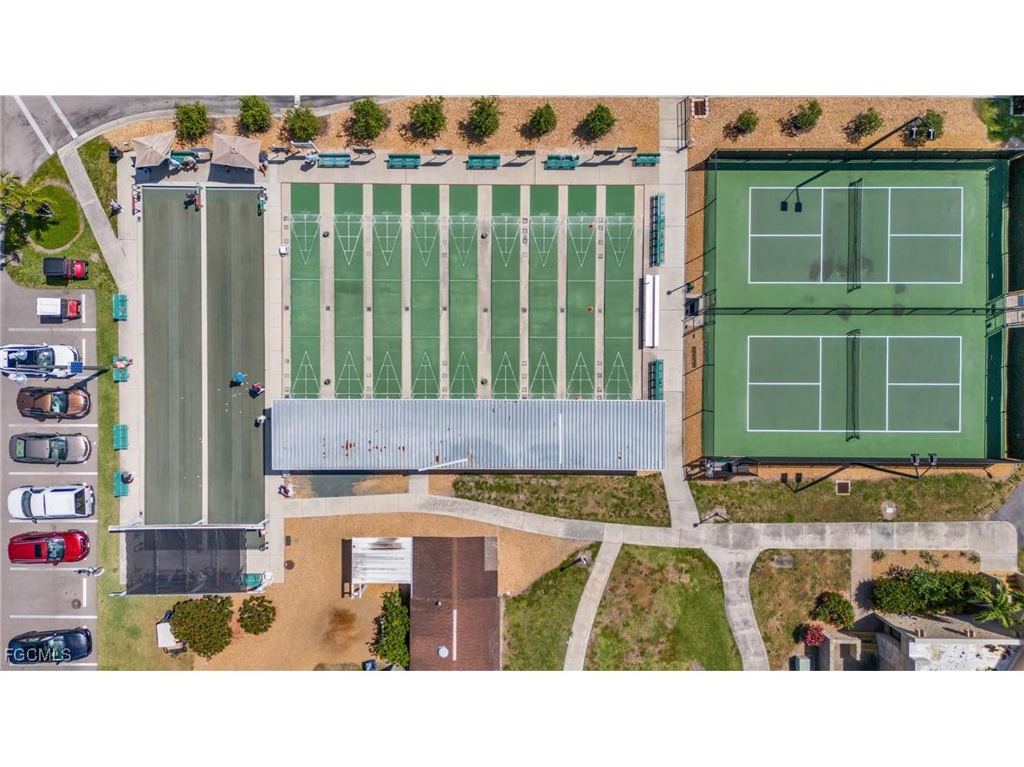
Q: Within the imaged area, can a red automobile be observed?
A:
Yes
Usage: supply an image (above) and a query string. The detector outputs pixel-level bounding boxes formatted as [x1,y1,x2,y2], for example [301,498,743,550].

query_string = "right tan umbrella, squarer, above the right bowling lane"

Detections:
[212,135,261,170]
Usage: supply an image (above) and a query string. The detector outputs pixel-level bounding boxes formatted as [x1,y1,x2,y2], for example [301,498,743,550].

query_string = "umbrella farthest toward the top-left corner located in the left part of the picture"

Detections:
[132,130,176,167]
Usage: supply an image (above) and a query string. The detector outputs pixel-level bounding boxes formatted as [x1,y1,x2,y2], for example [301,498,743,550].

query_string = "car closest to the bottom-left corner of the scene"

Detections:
[11,623,93,664]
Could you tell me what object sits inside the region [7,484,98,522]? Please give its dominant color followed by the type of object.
white truck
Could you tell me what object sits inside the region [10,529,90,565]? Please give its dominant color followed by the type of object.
red car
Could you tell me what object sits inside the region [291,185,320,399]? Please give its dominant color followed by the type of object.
green sports court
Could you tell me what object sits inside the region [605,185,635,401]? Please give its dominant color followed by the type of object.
green sports court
